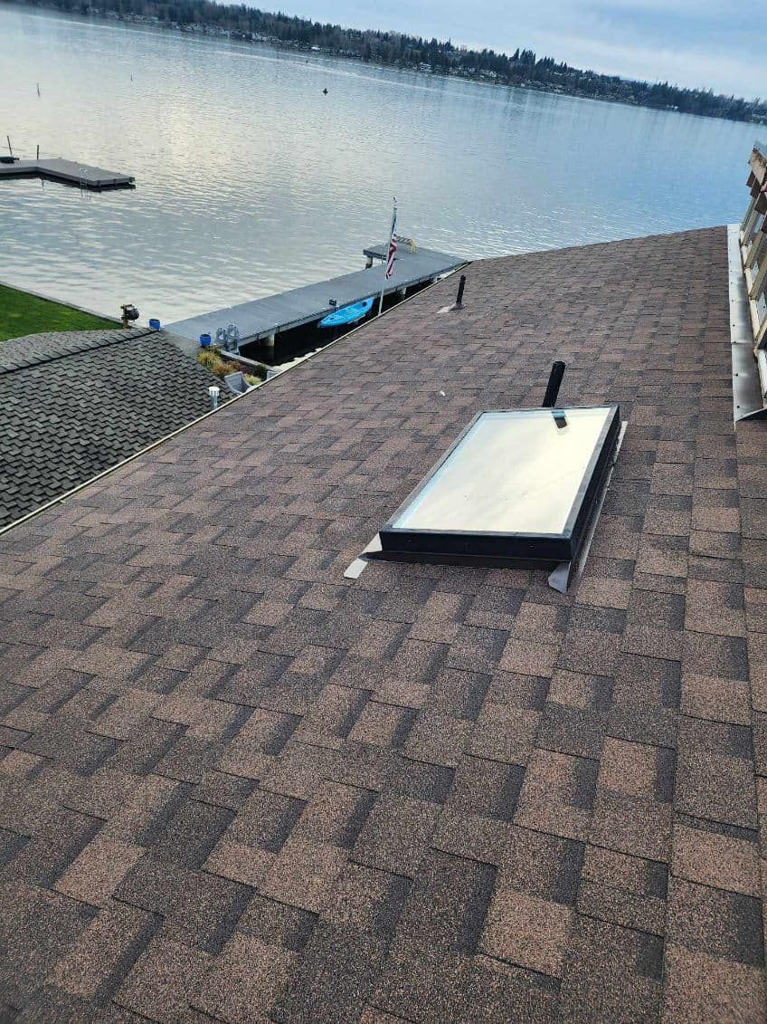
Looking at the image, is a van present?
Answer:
No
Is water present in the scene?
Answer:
Yes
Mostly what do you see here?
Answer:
buildings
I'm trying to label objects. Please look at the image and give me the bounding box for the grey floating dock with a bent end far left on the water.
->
[0,159,130,190]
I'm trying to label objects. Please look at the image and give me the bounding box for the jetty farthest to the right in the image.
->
[160,241,473,358]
